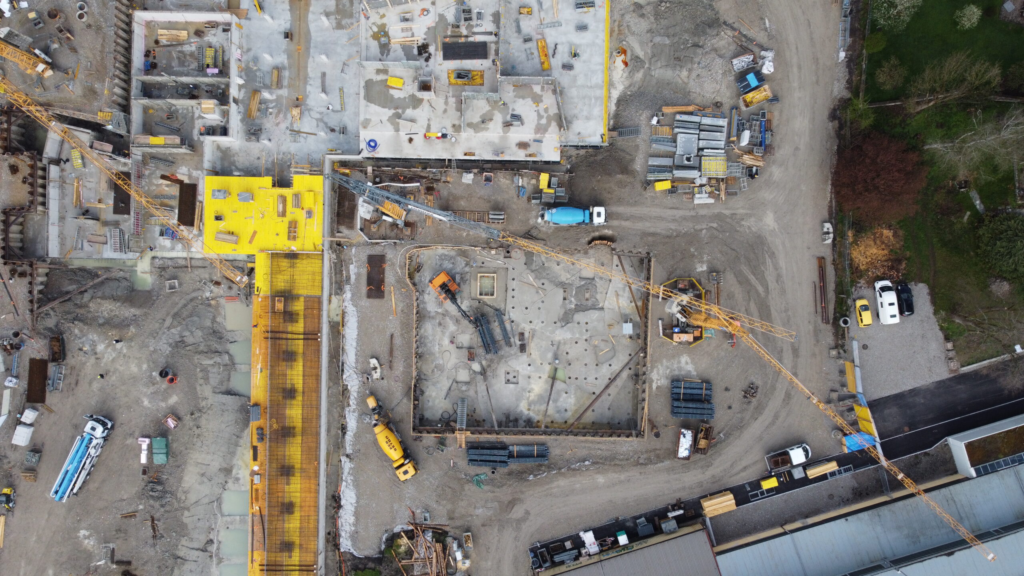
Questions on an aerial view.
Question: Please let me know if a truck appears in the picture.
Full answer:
Yes, the frame does contain a truck.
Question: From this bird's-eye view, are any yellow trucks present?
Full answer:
Yes, this view includes a yellow truck.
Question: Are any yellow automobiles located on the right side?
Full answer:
Yes, I can see a yellow automobile on the right side.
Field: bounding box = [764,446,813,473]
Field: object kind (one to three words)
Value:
truck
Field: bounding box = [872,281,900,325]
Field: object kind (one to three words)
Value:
van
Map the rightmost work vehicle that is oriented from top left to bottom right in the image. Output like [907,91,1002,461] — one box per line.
[427,269,485,333]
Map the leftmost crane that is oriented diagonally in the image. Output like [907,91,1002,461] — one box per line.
[0,29,252,290]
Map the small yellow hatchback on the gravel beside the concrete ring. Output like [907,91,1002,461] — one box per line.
[854,299,872,328]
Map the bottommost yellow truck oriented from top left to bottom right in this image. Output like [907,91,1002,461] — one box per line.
[370,418,422,489]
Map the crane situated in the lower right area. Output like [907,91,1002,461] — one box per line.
[658,280,999,564]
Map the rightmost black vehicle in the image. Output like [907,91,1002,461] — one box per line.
[894,283,914,316]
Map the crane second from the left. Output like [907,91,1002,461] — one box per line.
[315,169,800,342]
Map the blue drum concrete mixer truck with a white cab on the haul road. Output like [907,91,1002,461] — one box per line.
[535,204,608,227]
